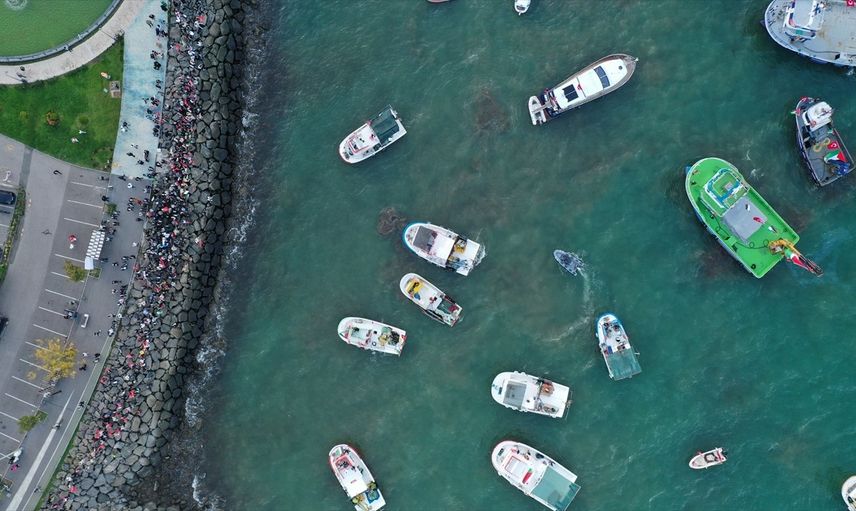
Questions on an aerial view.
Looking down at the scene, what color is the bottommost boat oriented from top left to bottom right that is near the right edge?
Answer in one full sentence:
From above, the bottommost boat oriented from top left to bottom right that is near the right edge appears green.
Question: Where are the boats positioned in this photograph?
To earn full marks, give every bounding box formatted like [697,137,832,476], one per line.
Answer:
[836,474,856,511]
[402,222,480,276]
[680,158,824,278]
[400,274,464,327]
[791,95,853,183]
[338,319,407,357]
[553,250,583,275]
[492,370,571,418]
[759,0,856,73]
[529,54,639,120]
[329,444,385,511]
[687,447,729,469]
[491,441,580,511]
[596,314,641,381]
[514,0,531,17]
[339,105,407,160]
